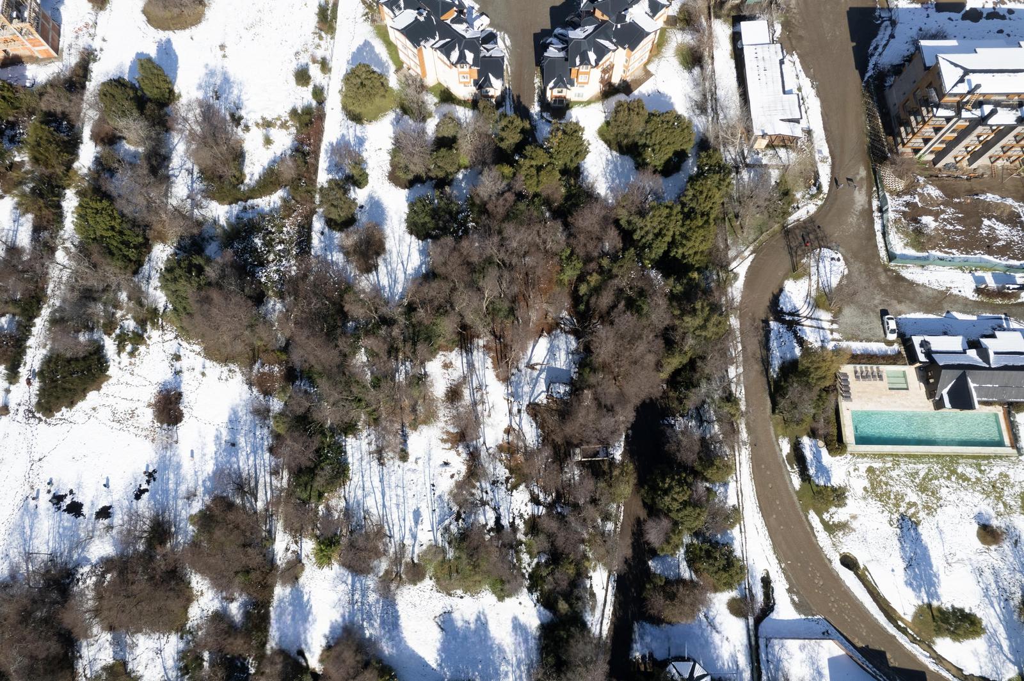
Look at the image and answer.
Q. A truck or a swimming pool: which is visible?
swimming pool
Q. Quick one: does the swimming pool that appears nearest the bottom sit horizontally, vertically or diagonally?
horizontally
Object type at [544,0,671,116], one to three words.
house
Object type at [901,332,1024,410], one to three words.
building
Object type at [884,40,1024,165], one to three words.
building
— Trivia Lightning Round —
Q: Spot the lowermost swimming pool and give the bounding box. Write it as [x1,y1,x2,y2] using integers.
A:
[850,409,1007,448]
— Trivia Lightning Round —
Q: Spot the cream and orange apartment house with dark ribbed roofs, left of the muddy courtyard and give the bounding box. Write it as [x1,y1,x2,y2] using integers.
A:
[379,0,505,115]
